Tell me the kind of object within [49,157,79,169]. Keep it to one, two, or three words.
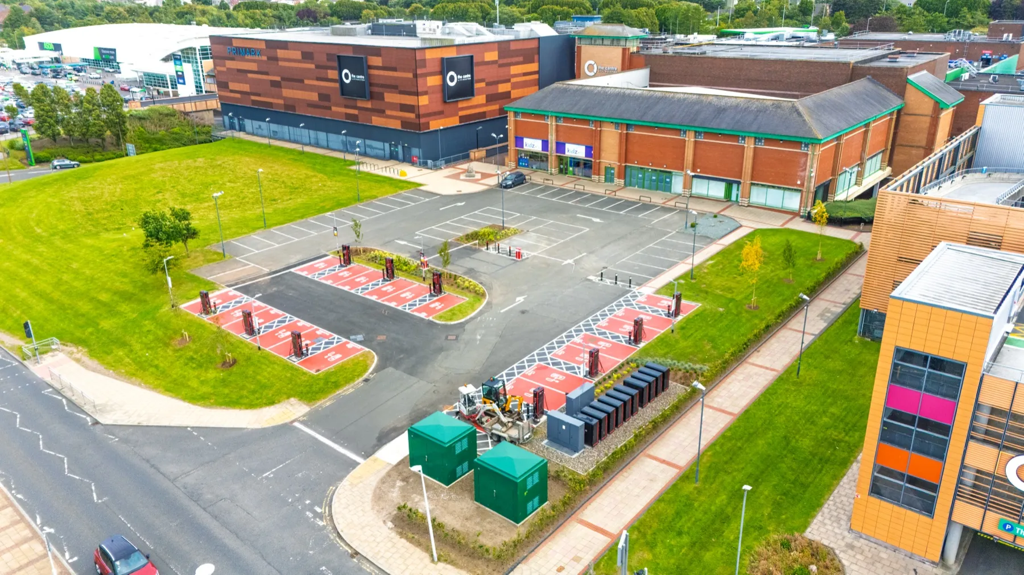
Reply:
vehicle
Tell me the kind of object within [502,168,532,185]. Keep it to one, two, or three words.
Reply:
car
